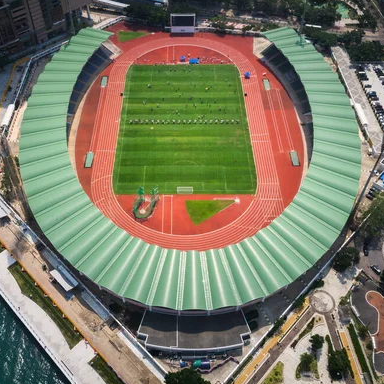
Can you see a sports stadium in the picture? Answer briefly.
Yes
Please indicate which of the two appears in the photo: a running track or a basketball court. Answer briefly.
running track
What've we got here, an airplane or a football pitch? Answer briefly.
football pitch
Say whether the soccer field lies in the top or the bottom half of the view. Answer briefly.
top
